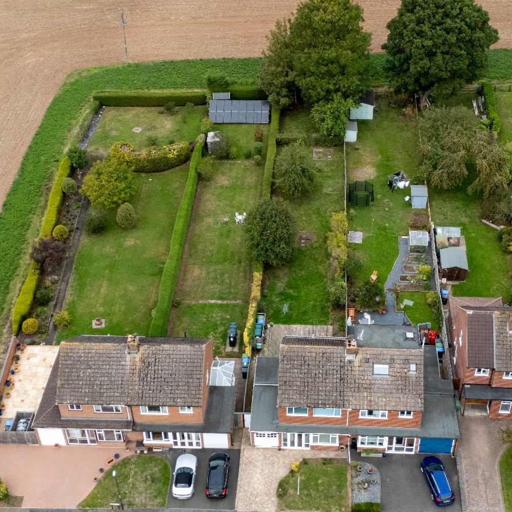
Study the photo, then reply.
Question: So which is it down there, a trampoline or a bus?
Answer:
trampoline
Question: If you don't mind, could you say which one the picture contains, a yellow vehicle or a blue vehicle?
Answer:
blue vehicle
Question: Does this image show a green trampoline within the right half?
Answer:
Yes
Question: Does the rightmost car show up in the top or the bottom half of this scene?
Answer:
bottom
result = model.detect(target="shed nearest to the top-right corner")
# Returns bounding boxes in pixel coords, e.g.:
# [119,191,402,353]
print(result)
[351,92,373,120]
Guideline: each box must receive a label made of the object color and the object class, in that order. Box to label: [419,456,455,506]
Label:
blue car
